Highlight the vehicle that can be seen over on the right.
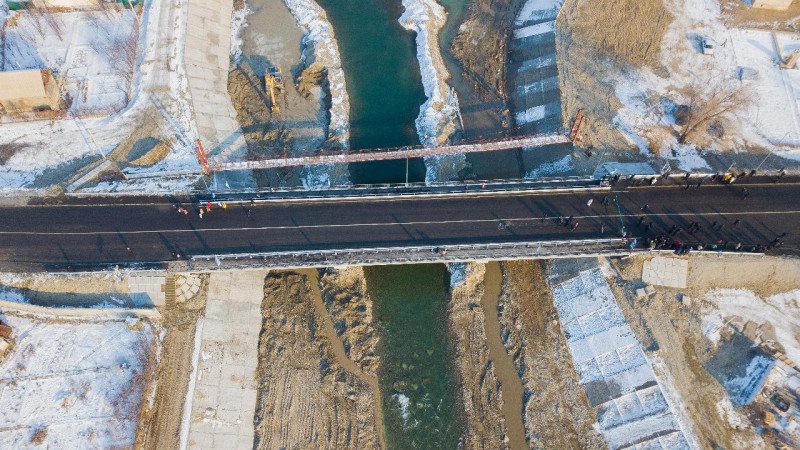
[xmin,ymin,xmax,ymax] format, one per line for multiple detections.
[703,40,716,59]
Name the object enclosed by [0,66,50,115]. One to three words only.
house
